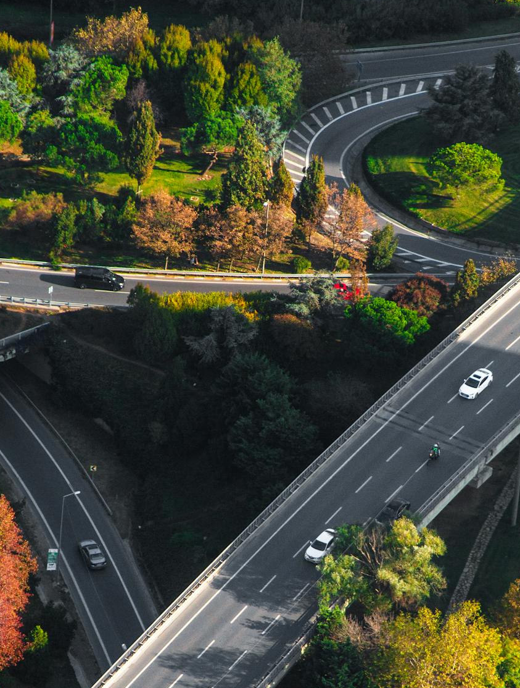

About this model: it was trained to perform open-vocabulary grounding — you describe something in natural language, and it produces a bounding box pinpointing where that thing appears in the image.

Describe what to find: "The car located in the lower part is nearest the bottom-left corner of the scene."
[79,540,107,571]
